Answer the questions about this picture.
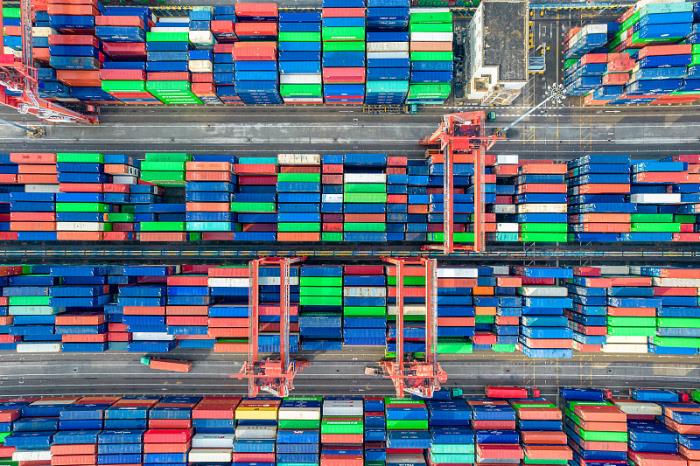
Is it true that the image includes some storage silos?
No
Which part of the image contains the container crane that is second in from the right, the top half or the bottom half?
bottom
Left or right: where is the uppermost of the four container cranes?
left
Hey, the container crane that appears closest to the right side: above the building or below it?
below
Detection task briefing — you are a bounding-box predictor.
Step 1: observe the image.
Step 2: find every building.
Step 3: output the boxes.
[468,1,528,105]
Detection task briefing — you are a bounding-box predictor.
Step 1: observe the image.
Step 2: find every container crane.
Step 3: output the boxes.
[414,103,497,251]
[230,258,313,400]
[372,258,446,400]
[0,0,96,126]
